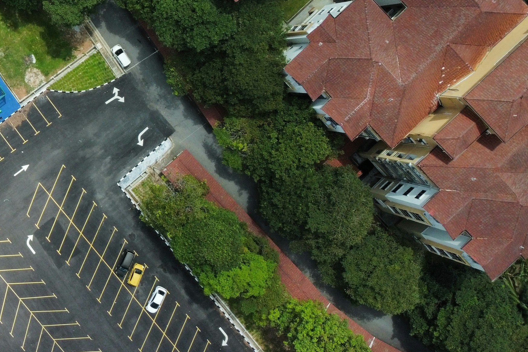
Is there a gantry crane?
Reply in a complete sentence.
No, I can't see a single gantry crane in this photo.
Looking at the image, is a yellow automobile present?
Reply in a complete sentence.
Yes, a yellow automobile can be made out from above.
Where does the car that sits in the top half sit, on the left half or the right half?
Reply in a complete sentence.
The car that sits in the top half appears in the left half of the scene.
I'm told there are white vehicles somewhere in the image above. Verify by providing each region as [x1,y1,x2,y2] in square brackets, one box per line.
[147,284,165,313]
[111,43,131,69]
